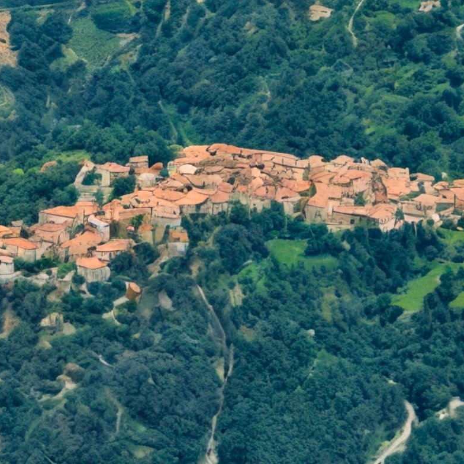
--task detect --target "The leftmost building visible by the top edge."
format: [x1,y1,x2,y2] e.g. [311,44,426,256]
[307,1,331,23]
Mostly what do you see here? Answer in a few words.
trees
